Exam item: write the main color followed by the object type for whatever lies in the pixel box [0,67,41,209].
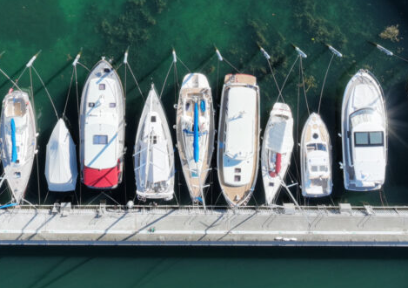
white boat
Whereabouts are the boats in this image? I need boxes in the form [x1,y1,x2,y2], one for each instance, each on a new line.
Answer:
[126,63,176,206]
[75,54,129,212]
[295,57,341,197]
[259,58,308,228]
[173,63,217,214]
[213,61,264,215]
[0,67,41,209]
[336,65,388,205]
[29,67,79,204]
